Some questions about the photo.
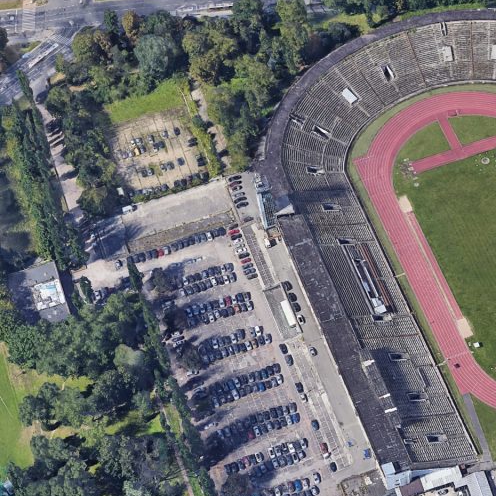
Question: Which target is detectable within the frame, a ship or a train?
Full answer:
There is a train in the scene.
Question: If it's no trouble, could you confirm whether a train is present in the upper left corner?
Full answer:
Yes, a train can be seen in the upper left corner.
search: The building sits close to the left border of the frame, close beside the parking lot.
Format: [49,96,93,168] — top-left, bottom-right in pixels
[10,261,68,329]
